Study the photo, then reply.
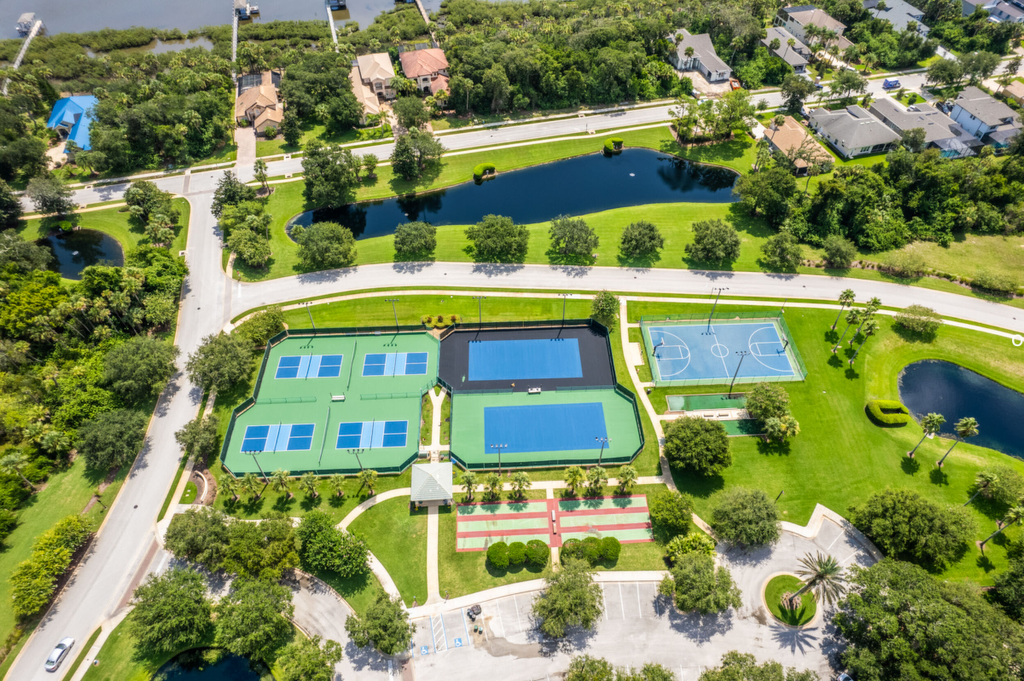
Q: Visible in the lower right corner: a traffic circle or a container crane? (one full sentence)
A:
Visible in the lower right corner is a traffic circle.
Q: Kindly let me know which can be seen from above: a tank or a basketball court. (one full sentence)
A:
It is a basketball court that can be seen here.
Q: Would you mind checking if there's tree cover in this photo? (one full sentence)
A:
Yes, tree cover can be seen from above here.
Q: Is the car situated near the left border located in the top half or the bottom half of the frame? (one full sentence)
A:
The car situated near the left border sits in the bottom half of the picture.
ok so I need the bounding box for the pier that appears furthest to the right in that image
[415,0,441,48]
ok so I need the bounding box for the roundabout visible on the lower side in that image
[761,572,821,629]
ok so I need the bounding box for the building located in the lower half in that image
[411,462,453,508]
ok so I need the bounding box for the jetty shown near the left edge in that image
[2,21,44,93]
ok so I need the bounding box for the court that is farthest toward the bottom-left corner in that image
[240,420,316,453]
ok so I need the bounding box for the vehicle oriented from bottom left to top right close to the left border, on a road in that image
[43,637,73,672]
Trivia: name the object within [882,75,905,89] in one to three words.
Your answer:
vehicle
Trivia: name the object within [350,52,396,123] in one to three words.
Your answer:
house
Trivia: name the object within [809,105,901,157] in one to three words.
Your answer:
house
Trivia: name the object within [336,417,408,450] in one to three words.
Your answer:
sports court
